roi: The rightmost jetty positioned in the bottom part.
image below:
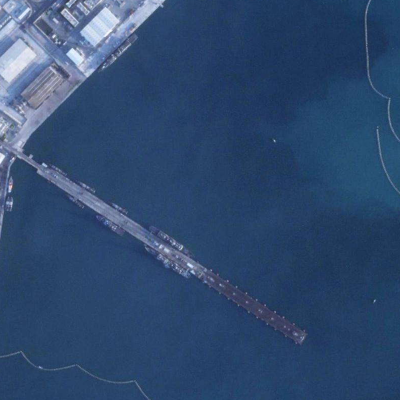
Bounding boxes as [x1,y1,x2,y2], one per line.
[17,151,306,343]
